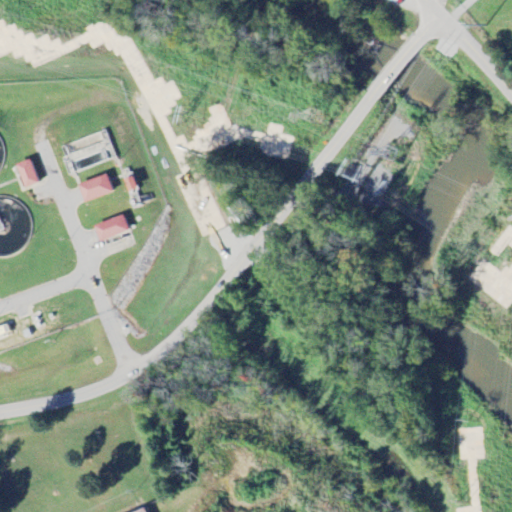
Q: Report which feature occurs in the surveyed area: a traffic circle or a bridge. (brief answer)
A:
bridge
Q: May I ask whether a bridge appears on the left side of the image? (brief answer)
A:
No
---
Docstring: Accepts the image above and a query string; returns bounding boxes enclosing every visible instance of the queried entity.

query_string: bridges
[376,40,423,90]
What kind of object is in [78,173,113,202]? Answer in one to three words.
building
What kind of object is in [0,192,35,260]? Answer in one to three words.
storage tank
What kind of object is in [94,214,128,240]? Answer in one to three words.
building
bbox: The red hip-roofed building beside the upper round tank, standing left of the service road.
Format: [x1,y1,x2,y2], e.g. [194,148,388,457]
[14,158,39,187]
